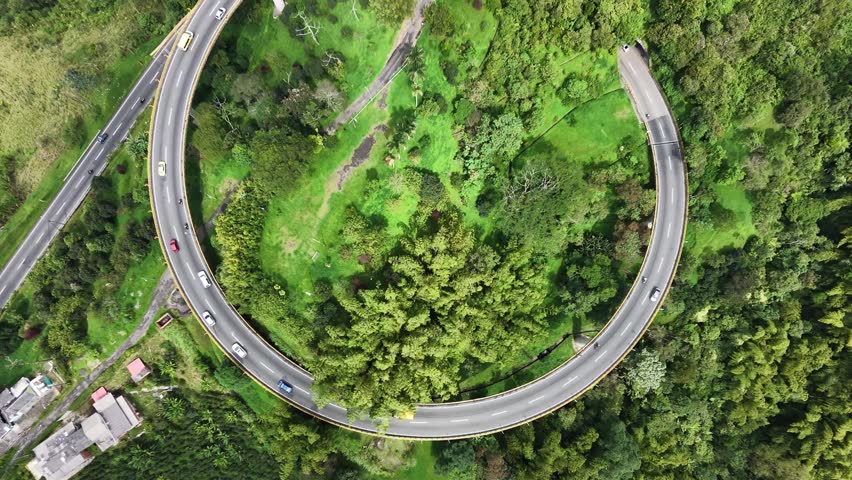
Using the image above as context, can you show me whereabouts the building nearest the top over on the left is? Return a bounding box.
[126,356,153,383]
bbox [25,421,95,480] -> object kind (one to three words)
house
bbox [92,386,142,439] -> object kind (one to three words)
house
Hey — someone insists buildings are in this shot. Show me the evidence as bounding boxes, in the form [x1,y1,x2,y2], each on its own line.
[126,356,153,383]
[25,421,95,480]
[3,374,56,423]
[92,386,142,439]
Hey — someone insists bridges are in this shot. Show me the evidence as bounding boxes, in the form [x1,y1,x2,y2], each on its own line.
[142,0,692,444]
